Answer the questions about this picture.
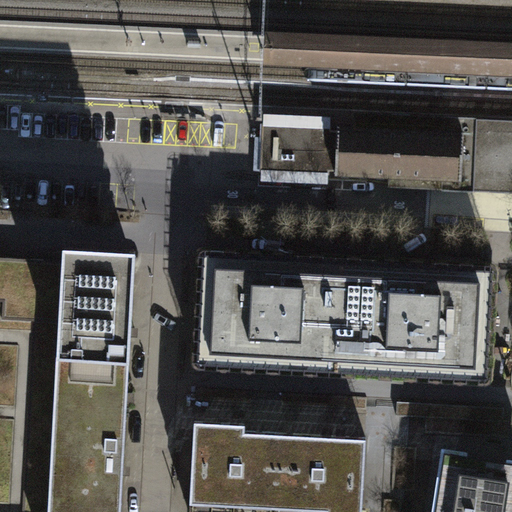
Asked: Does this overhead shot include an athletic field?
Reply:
No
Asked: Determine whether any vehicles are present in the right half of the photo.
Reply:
Yes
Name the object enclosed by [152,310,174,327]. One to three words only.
car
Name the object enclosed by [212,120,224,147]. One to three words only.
vehicle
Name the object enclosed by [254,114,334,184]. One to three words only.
building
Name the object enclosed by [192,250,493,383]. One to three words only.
building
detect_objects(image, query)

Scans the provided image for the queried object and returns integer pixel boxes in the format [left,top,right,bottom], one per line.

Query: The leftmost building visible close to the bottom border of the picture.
[47,360,129,512]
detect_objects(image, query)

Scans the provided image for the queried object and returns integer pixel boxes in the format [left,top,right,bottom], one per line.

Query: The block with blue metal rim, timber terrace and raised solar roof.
[432,448,512,512]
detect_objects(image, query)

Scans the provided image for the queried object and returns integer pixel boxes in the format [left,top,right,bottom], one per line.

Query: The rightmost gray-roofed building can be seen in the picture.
[474,118,512,192]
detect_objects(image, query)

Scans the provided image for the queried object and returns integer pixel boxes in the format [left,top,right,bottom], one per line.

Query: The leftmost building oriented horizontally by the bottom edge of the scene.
[188,424,366,512]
